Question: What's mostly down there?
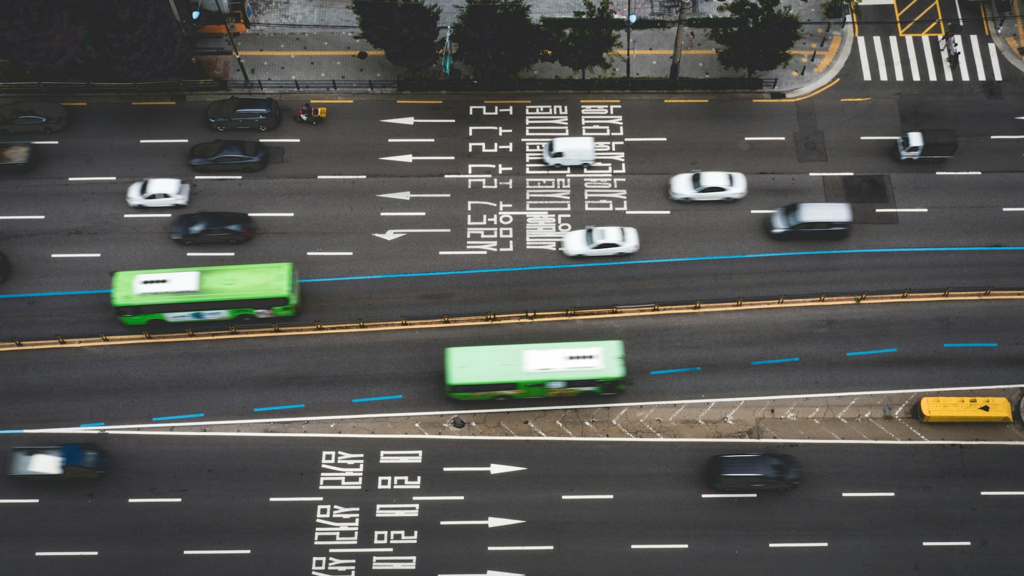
paved ground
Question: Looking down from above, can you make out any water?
No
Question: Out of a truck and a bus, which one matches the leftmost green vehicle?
bus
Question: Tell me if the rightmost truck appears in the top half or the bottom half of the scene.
top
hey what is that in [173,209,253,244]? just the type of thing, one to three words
car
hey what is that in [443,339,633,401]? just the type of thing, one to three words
bus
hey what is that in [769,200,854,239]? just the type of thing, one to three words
van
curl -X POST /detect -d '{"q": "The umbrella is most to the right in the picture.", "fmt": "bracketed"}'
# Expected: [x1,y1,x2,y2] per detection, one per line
[947,22,962,34]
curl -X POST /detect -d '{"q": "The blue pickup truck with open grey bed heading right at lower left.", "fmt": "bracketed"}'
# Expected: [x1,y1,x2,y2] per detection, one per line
[3,437,105,478]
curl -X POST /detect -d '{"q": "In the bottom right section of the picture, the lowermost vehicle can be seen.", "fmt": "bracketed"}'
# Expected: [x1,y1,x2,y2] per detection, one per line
[707,447,801,490]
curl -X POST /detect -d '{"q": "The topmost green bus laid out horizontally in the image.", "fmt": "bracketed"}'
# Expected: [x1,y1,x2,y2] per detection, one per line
[104,263,295,326]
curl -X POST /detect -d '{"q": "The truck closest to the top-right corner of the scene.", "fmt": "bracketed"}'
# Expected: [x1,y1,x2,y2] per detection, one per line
[897,128,965,161]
